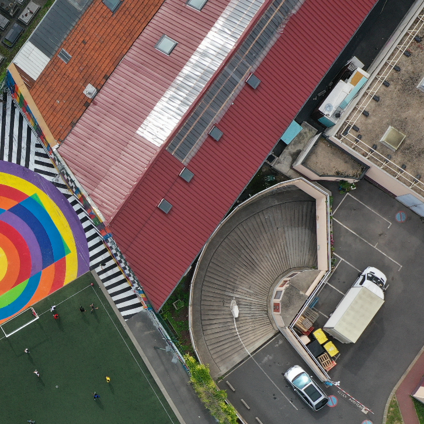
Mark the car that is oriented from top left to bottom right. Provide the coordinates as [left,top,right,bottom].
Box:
[279,362,335,417]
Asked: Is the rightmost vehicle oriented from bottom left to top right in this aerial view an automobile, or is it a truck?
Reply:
truck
